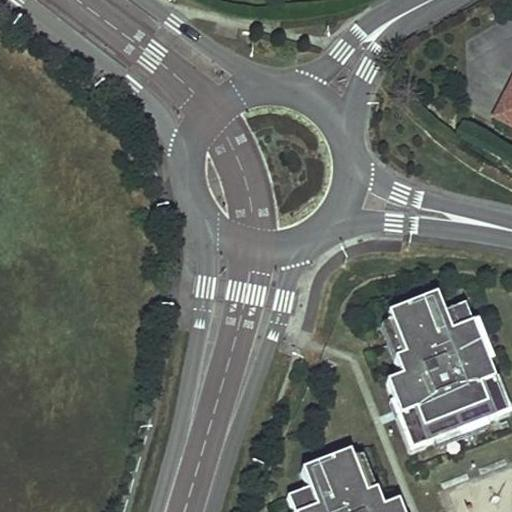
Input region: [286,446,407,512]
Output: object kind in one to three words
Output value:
building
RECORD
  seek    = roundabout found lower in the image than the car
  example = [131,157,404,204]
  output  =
[165,51,384,290]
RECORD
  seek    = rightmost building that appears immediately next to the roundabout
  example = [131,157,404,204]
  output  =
[380,288,512,454]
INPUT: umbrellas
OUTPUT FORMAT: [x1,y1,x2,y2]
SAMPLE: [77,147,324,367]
[446,440,462,455]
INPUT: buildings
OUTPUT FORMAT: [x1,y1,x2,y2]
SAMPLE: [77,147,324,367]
[492,74,512,126]
[380,288,512,454]
[286,446,407,512]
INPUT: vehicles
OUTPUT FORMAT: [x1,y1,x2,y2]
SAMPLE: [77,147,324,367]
[180,24,202,42]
